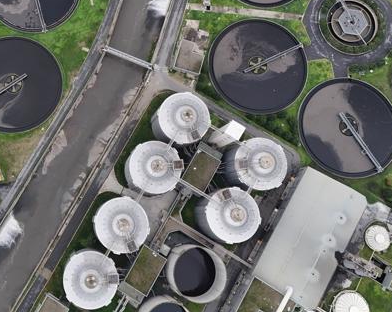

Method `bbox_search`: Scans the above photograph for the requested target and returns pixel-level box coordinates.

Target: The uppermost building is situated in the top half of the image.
[173,39,204,76]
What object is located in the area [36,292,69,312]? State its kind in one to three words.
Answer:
building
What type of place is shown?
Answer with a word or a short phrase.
industrial area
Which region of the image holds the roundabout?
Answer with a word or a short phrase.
top right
